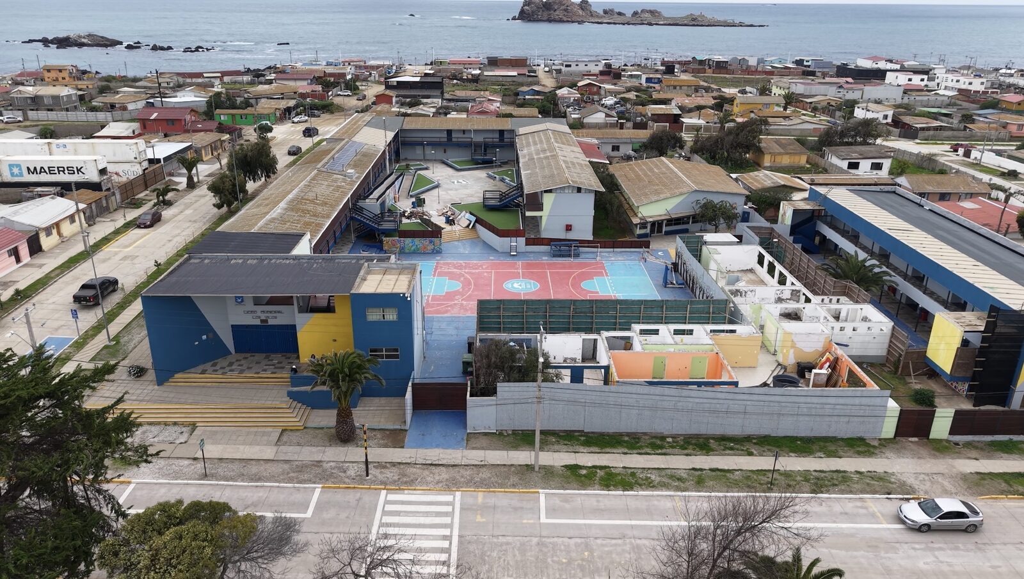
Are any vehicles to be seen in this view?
Yes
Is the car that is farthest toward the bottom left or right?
right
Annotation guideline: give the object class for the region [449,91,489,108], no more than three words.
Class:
house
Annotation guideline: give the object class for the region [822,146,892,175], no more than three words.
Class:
house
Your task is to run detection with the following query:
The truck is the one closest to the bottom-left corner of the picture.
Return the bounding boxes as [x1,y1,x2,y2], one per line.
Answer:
[70,277,115,302]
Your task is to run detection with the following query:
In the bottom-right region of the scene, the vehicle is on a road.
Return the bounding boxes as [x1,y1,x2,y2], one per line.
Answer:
[898,493,989,530]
